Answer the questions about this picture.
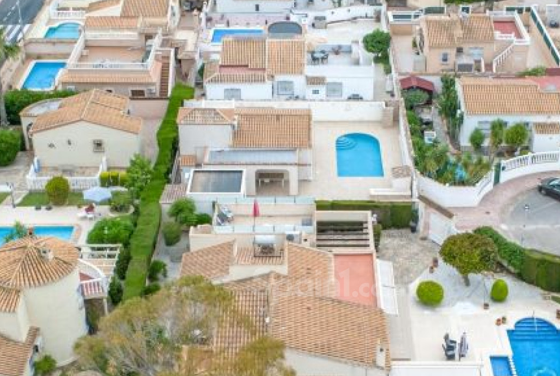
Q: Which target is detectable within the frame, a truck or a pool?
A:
pool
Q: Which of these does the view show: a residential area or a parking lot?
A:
residential area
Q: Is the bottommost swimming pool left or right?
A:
right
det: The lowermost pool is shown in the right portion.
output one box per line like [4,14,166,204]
[486,353,518,376]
